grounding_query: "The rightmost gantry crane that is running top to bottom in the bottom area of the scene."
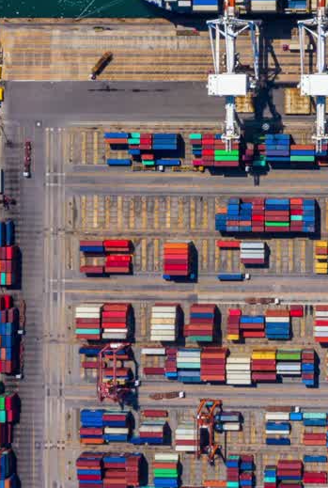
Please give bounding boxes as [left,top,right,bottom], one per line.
[196,389,222,454]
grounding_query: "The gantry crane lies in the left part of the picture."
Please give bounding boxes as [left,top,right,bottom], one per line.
[99,339,129,397]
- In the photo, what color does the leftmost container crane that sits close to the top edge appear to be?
white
